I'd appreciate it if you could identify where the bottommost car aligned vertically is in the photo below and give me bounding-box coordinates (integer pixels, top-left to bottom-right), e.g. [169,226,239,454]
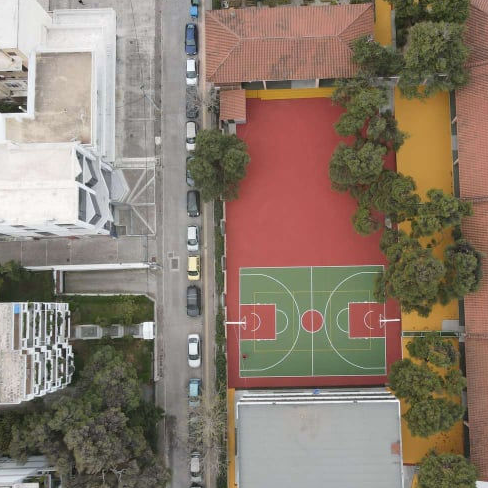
[187,447,203,482]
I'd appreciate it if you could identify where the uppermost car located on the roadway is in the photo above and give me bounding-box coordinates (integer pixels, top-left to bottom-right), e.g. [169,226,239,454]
[183,25,198,55]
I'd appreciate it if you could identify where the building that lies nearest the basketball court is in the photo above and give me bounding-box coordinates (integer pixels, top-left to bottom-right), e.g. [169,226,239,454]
[235,389,403,488]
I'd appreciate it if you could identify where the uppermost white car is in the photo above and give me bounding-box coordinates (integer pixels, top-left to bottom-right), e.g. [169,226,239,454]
[183,59,198,87]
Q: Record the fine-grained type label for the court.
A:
basketball court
